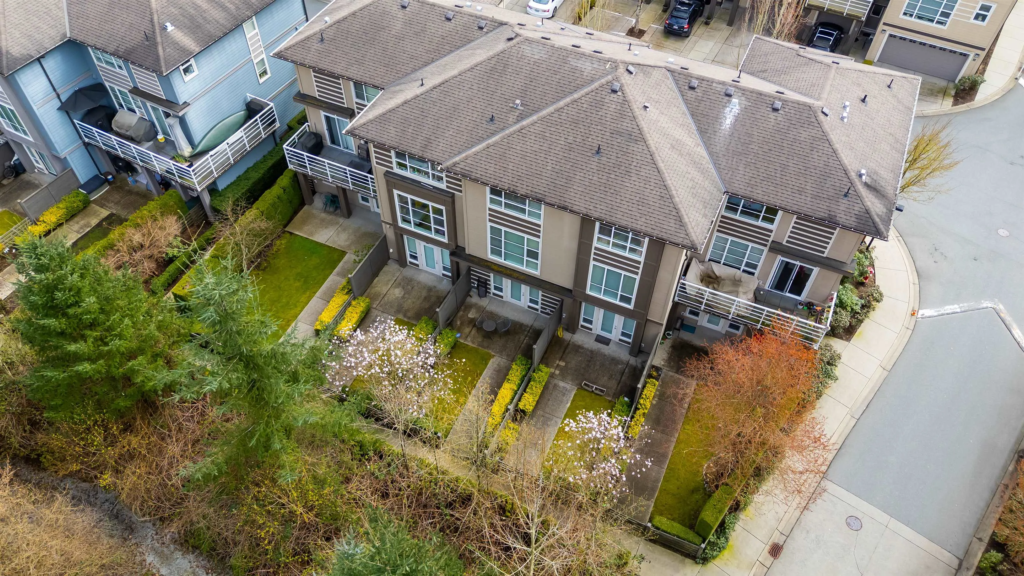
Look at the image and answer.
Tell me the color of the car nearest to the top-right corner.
black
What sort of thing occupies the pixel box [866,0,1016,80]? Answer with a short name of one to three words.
house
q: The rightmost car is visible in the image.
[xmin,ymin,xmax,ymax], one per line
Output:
[807,20,846,54]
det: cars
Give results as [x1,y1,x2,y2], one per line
[664,0,704,36]
[528,0,564,17]
[807,20,846,54]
